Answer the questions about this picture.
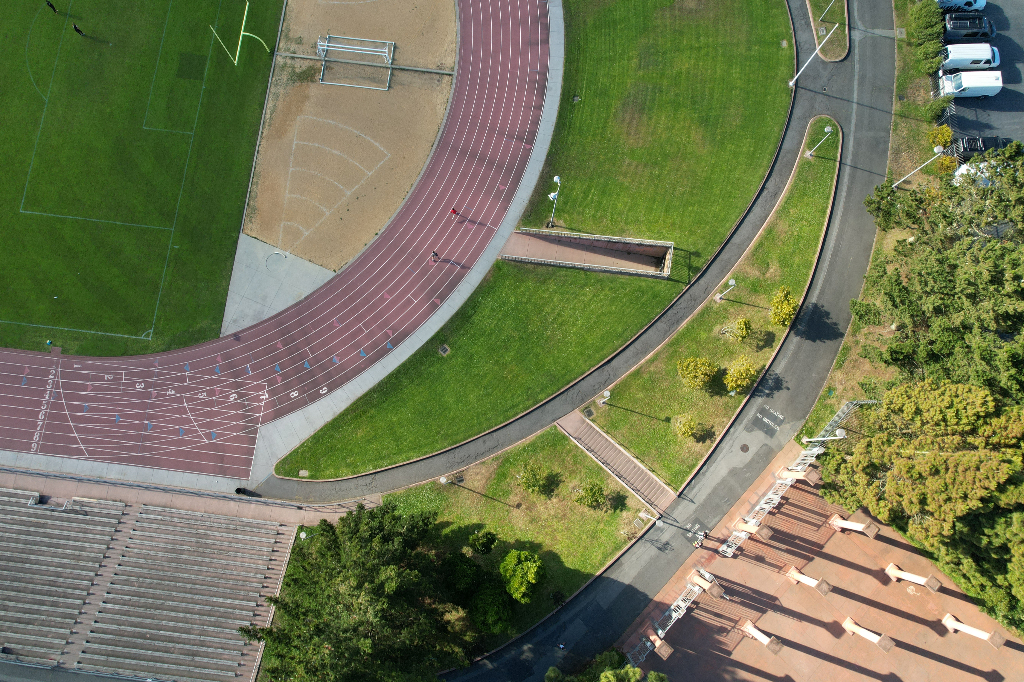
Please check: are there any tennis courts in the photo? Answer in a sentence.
No, no tennis court can be seen from above.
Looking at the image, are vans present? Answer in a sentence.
Yes, the photo shows a van.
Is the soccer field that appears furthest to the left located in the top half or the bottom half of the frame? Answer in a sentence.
The top half of the photo is where the soccer field that appears furthest to the left is.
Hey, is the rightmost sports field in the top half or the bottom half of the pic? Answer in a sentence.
The rightmost sports field sits in the top half of the picture.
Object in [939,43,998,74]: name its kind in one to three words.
van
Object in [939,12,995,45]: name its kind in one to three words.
van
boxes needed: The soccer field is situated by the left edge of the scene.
[0,0,286,357]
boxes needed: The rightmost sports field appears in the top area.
[242,0,460,275]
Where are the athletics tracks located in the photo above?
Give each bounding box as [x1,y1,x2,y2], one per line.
[0,0,549,480]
